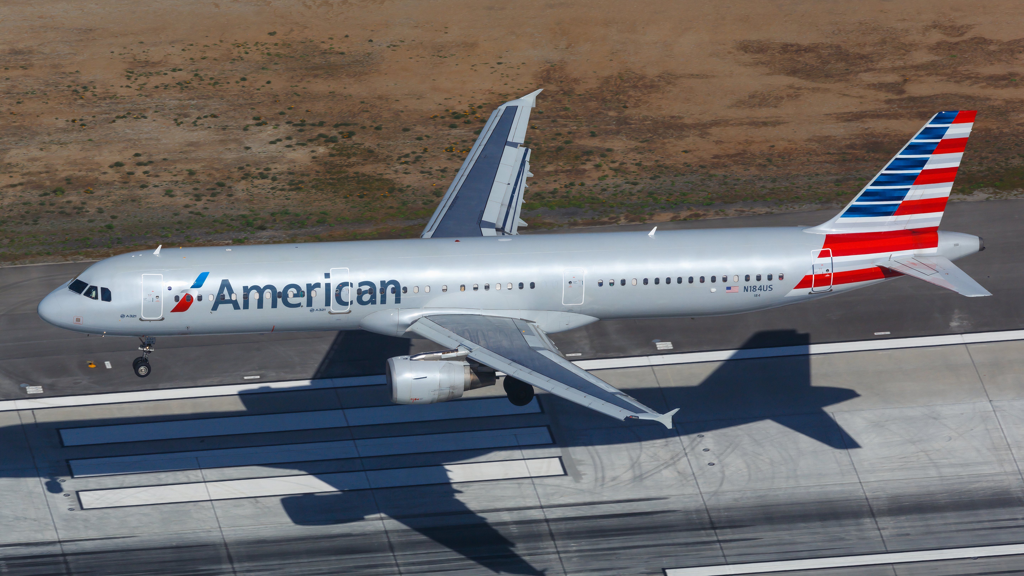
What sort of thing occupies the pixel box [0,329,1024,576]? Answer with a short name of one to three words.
runway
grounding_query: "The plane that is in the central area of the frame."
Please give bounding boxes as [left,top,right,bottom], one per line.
[36,88,992,429]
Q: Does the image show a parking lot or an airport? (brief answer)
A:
airport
